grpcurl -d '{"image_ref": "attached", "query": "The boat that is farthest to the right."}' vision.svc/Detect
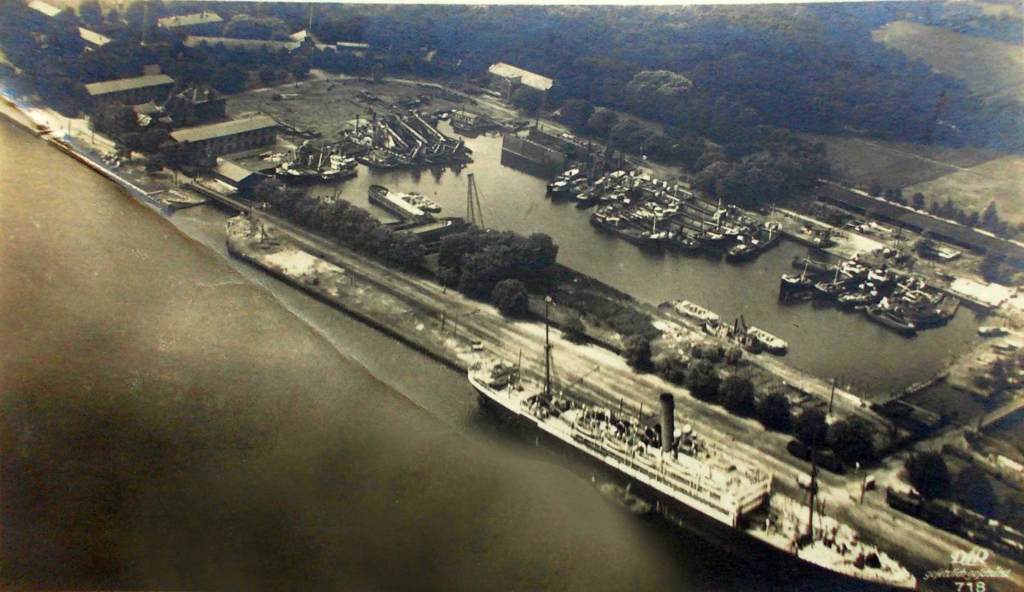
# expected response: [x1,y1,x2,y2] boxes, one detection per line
[992,343,1021,355]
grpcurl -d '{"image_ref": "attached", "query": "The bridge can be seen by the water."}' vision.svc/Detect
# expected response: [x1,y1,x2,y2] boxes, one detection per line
[173,176,261,217]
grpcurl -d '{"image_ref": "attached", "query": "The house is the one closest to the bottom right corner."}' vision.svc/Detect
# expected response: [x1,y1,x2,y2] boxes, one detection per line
[996,450,1024,483]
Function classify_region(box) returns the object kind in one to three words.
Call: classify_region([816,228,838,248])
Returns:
shed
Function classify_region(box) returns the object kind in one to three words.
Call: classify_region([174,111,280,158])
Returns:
building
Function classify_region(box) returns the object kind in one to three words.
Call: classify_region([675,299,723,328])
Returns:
ship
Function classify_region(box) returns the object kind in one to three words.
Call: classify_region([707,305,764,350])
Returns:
ship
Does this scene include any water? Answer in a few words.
Yes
